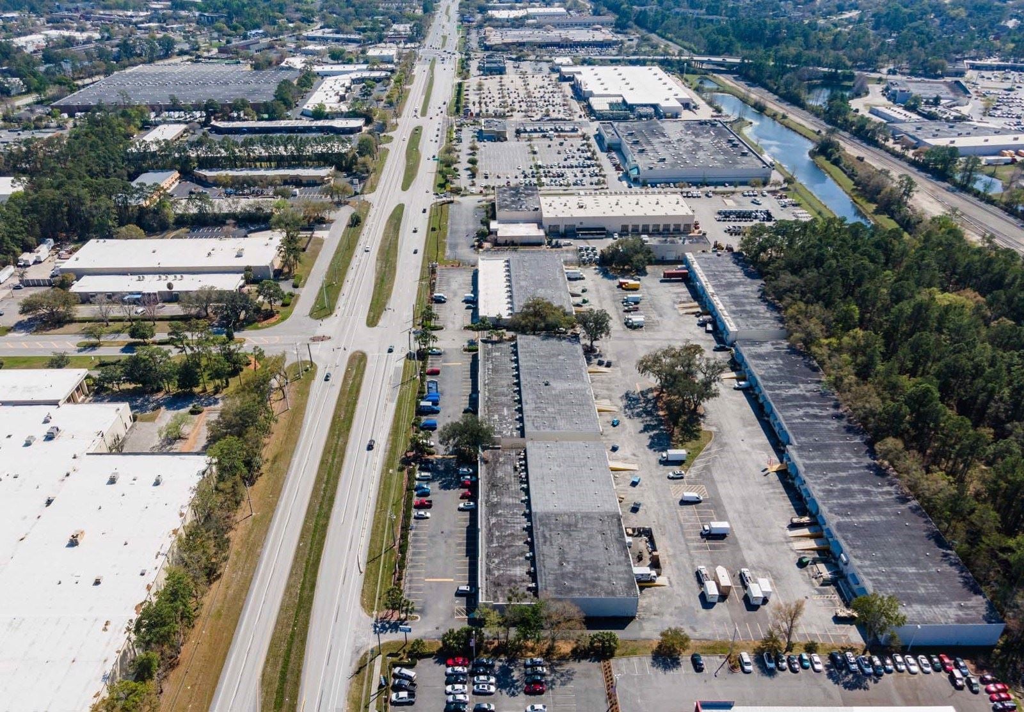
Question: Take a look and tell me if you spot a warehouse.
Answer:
Yes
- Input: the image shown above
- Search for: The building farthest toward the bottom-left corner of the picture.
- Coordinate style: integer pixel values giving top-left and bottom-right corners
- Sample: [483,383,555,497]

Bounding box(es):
[0,368,215,712]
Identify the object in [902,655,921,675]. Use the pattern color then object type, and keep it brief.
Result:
white car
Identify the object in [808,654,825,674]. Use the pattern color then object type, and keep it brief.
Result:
white car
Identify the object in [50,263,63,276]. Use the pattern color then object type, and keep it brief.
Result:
white vehicle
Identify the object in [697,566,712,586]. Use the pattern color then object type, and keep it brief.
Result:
white vehicle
